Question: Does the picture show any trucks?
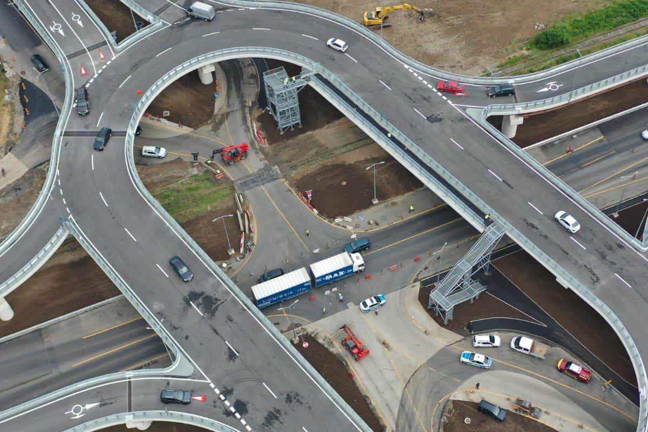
Yes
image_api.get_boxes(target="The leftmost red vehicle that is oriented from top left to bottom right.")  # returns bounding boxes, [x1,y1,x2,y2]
[336,322,370,361]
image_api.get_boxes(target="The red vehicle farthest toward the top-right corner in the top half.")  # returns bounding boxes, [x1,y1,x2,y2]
[436,79,465,95]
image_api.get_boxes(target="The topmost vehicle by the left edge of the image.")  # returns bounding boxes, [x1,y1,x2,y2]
[29,53,50,72]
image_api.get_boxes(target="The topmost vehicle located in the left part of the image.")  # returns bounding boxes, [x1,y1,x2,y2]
[188,2,215,21]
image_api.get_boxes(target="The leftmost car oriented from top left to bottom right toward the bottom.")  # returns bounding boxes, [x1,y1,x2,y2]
[167,254,196,282]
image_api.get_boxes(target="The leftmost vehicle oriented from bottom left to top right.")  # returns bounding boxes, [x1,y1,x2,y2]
[92,125,113,150]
